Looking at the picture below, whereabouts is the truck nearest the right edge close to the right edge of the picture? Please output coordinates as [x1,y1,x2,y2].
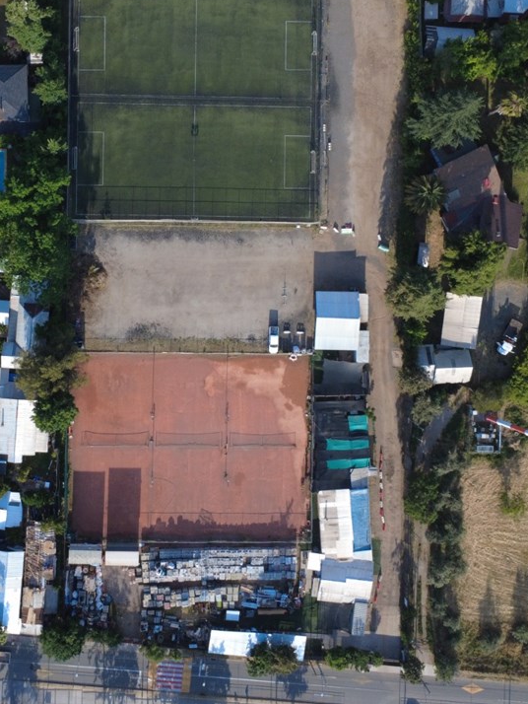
[496,318,521,354]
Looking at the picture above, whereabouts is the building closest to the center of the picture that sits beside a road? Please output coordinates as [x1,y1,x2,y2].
[313,290,370,363]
